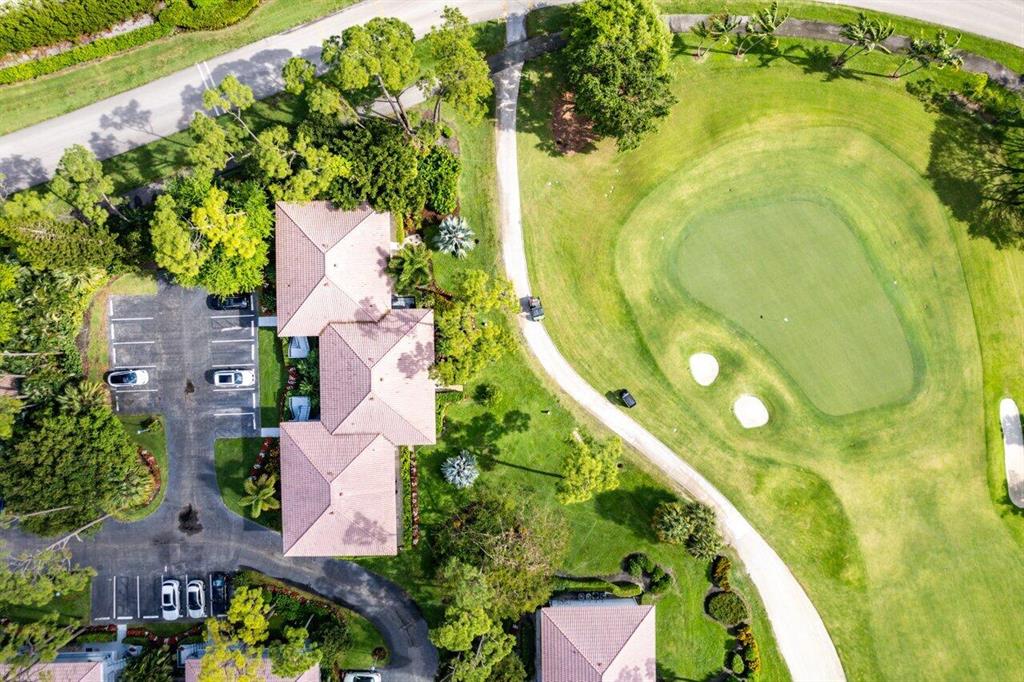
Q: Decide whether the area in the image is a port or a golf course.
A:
golf course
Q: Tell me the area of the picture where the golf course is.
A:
right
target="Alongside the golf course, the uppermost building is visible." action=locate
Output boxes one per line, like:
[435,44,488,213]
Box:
[276,200,436,557]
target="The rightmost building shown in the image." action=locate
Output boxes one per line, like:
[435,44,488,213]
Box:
[535,597,656,682]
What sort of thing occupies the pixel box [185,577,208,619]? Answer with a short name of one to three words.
car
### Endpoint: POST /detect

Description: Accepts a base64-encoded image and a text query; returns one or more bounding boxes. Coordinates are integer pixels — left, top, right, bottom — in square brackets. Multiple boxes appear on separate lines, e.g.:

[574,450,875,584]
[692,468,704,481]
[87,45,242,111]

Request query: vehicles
[160,578,183,620]
[529,299,543,320]
[618,388,637,409]
[208,572,229,615]
[344,671,382,682]
[108,369,151,388]
[208,292,251,312]
[185,577,208,619]
[214,368,257,388]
